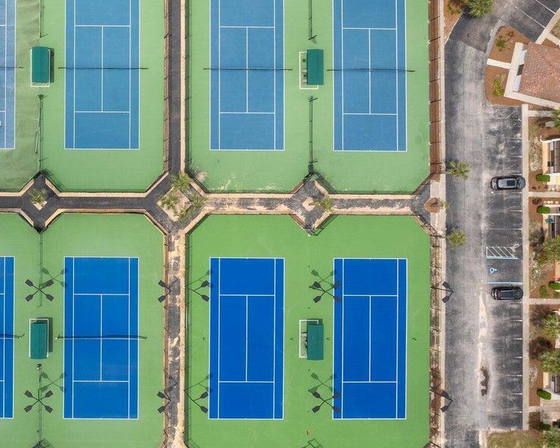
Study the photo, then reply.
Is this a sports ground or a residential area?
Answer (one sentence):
This looks like a sports ground.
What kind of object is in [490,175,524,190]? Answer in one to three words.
car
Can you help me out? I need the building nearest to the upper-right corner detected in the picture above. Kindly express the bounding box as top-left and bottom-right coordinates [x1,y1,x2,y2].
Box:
[511,42,560,106]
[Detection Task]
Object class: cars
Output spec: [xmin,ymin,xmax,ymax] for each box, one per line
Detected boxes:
[490,285,523,301]
[490,175,524,190]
